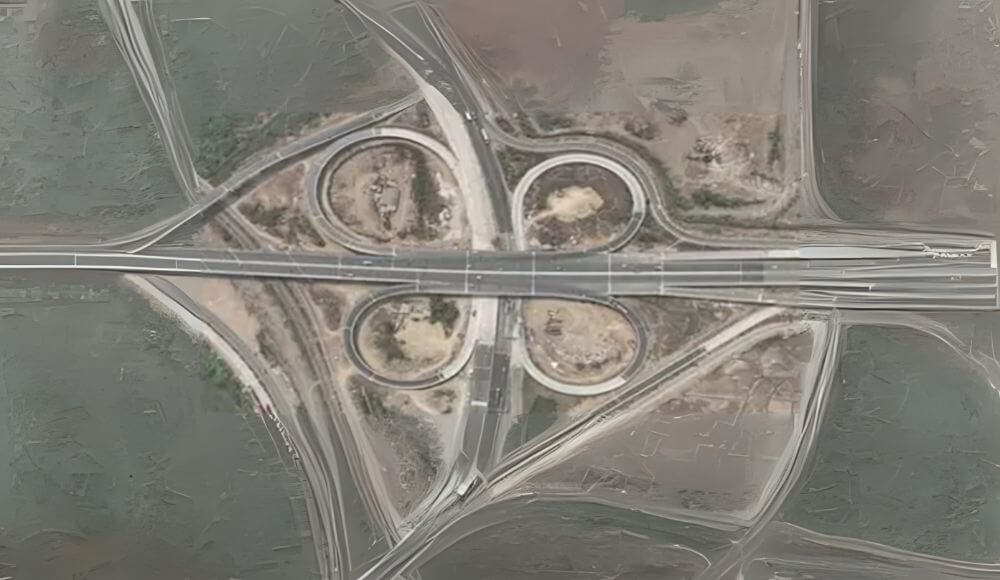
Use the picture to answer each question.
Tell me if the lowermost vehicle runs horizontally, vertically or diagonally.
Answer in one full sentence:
What the image shows is the lowermost vehicle lying diagonally.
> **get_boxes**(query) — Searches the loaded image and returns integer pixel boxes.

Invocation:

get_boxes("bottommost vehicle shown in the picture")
[457,476,479,496]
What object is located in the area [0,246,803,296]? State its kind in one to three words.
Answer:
overpass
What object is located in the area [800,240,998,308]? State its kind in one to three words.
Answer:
toll station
